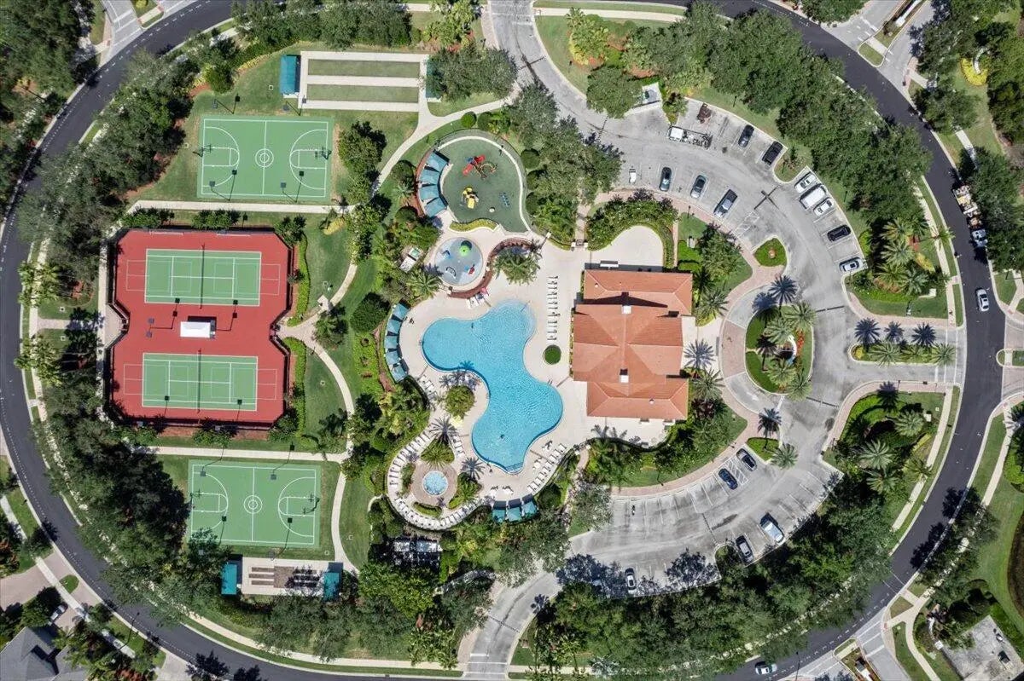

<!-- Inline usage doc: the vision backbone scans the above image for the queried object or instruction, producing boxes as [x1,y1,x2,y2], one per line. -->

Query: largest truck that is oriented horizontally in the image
[667,126,714,148]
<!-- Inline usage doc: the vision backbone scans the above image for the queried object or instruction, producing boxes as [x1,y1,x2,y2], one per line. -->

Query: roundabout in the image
[744,302,814,394]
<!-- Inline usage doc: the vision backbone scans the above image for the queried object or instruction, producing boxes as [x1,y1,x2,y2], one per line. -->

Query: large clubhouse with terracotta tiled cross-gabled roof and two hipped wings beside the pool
[573,263,693,420]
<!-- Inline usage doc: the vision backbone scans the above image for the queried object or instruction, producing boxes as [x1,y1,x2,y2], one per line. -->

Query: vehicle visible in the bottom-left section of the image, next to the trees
[47,603,69,625]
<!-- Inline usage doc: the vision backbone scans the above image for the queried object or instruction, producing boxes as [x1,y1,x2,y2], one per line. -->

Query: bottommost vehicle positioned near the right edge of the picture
[974,288,989,313]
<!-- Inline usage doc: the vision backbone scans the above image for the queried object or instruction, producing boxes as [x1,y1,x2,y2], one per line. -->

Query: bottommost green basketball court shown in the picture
[186,462,322,547]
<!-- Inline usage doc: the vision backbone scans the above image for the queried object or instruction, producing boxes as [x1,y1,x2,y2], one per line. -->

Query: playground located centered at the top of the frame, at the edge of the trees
[413,125,538,232]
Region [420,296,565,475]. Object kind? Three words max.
swimming pool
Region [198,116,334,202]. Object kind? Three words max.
basketball court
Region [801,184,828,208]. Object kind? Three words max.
vehicle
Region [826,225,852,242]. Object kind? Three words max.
car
